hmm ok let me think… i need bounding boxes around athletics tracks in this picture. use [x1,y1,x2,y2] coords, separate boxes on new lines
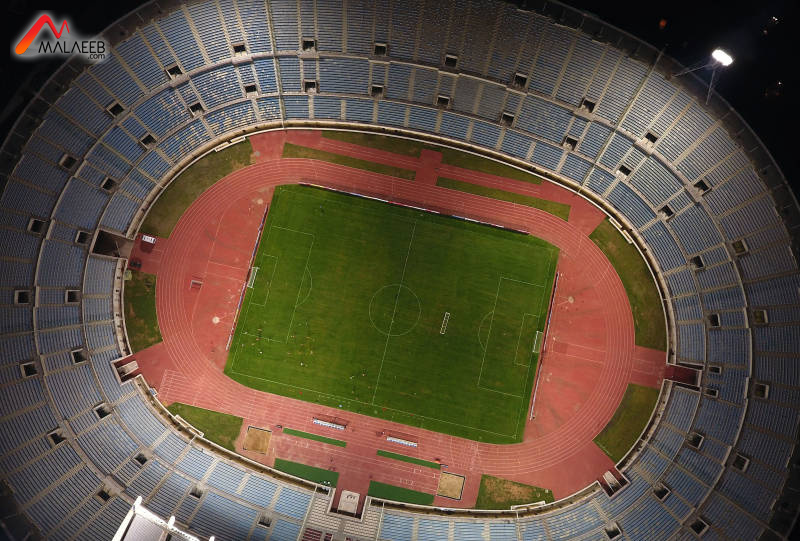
[157,143,634,482]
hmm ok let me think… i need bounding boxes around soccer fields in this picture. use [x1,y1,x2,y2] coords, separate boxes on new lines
[224,185,559,442]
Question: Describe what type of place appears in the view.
sports ground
